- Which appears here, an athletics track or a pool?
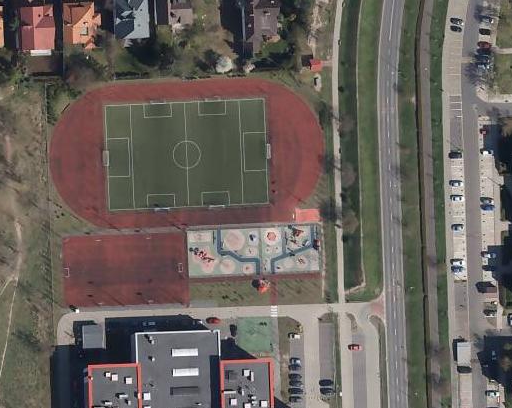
athletics track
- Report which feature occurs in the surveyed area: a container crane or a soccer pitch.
soccer pitch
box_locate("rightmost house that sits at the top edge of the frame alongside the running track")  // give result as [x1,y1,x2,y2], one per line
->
[244,0,280,54]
